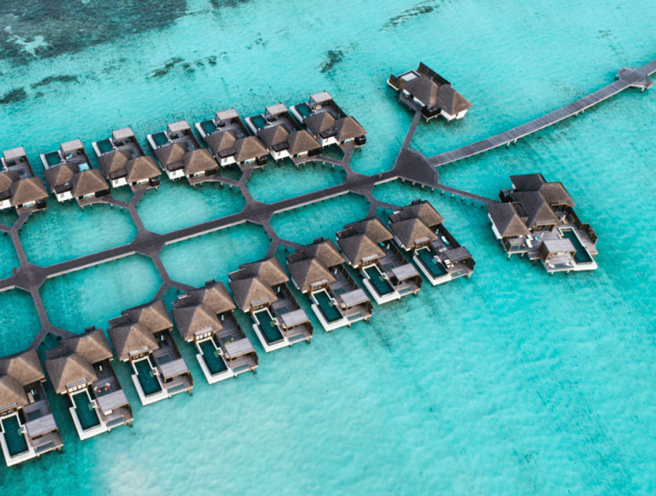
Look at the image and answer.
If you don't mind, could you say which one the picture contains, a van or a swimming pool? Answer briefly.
swimming pool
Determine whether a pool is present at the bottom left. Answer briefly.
Yes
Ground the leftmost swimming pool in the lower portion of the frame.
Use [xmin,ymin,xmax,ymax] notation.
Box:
[0,411,36,469]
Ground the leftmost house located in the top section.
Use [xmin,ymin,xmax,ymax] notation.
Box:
[0,144,49,219]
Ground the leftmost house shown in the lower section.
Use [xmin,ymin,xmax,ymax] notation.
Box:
[0,348,65,457]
